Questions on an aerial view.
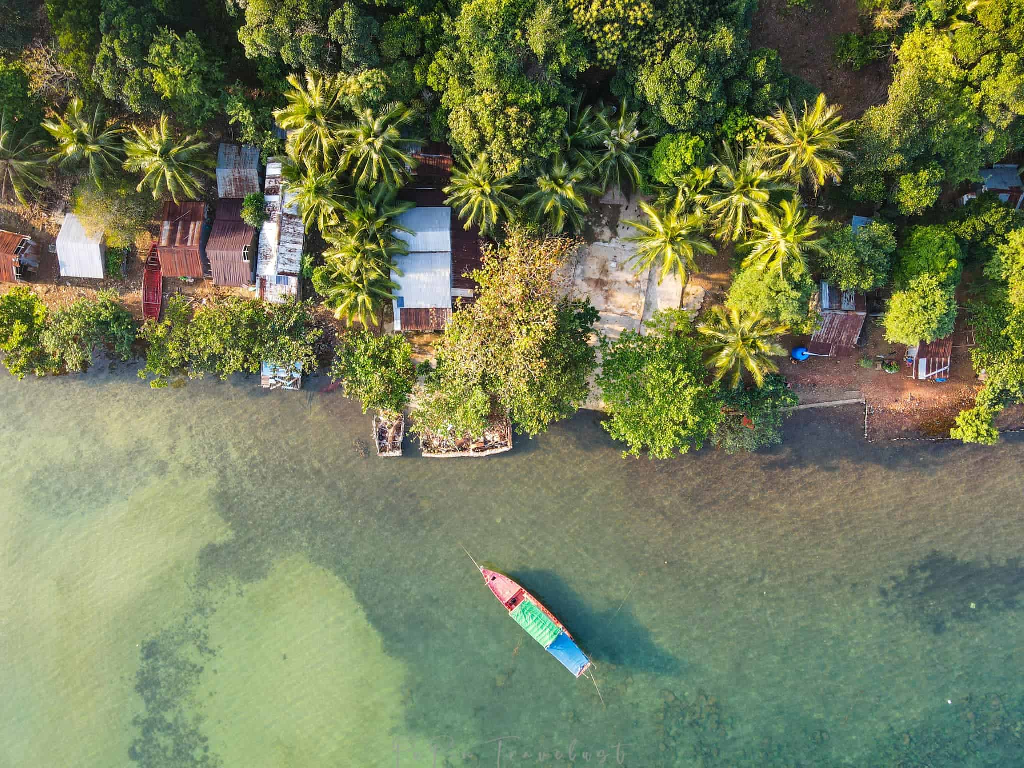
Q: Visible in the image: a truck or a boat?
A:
boat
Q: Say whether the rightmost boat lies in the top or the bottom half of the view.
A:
bottom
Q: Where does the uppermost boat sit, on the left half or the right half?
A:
left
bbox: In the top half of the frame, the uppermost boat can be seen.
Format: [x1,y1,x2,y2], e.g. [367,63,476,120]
[139,241,163,325]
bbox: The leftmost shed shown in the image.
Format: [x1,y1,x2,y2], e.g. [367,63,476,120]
[0,231,46,283]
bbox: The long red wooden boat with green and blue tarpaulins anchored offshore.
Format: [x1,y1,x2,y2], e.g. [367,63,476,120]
[480,564,596,682]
